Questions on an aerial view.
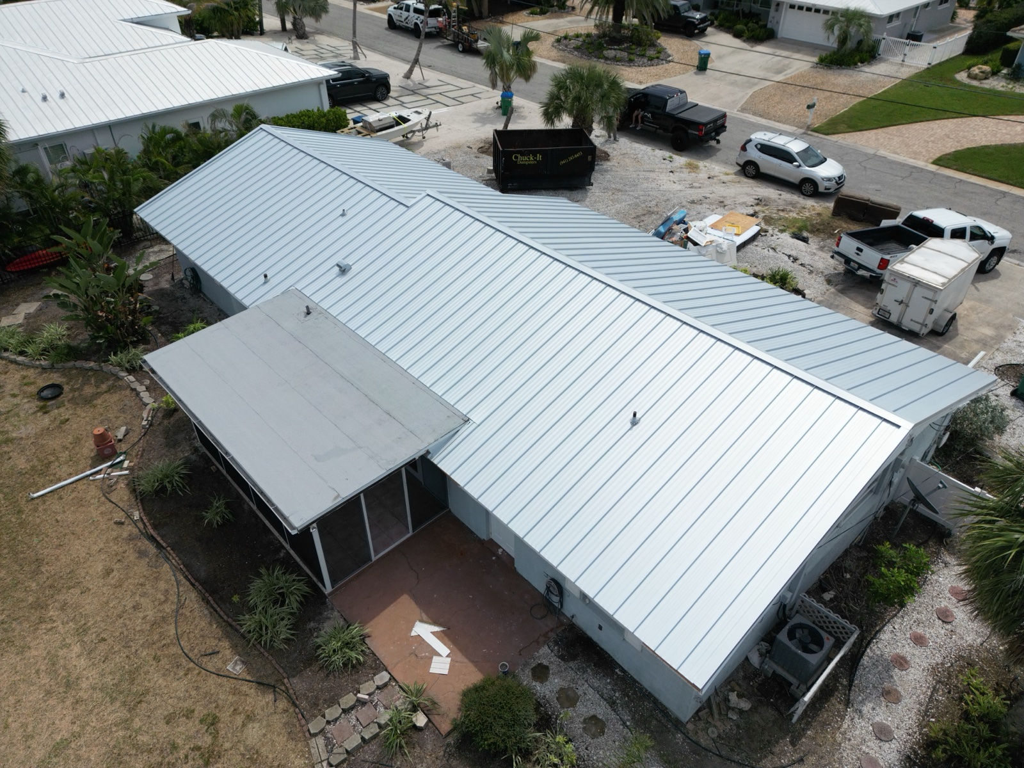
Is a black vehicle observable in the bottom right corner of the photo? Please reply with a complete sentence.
No, I can find no black vehicle in the bottom right corner of the photo.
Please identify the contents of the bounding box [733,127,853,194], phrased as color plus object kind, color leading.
gray car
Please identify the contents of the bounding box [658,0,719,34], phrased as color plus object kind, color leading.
black car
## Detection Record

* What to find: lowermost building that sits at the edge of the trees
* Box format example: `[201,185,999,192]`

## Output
[135,124,995,722]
